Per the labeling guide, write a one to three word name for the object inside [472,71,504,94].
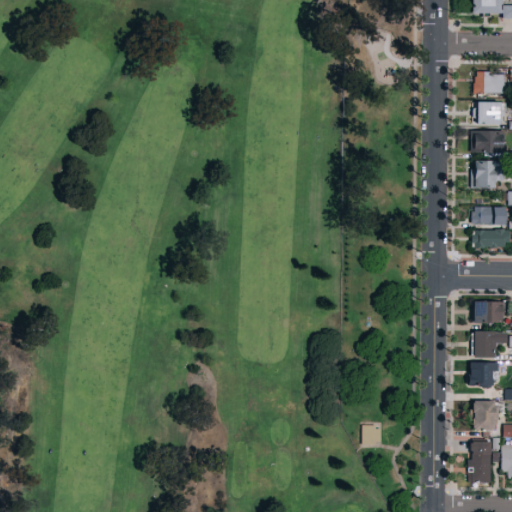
house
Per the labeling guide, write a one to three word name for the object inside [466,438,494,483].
building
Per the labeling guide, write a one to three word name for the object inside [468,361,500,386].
house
